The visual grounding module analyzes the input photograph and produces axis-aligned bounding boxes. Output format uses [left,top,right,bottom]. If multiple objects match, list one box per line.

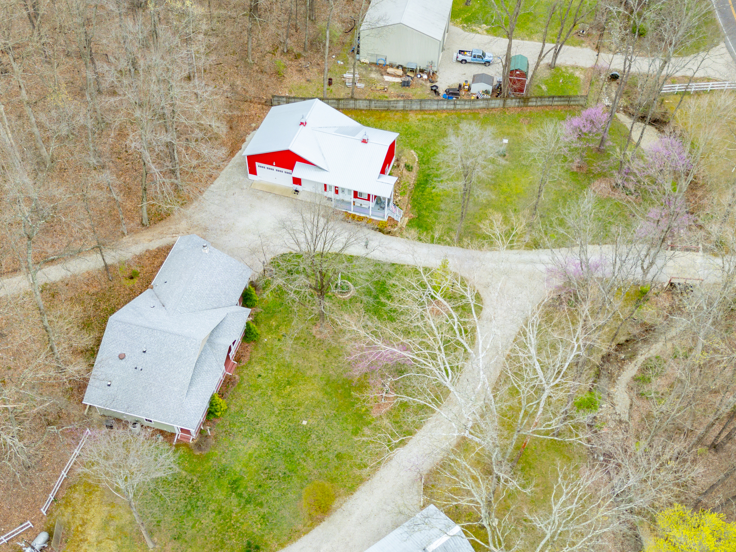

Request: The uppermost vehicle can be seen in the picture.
[456,47,497,66]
